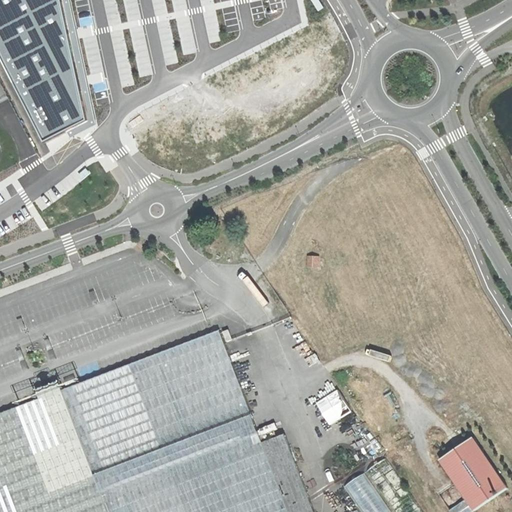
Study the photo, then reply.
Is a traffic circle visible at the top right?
Yes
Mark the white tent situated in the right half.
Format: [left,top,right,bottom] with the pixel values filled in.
[316,390,351,425]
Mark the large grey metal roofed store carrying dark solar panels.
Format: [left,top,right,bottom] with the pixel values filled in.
[0,0,84,138]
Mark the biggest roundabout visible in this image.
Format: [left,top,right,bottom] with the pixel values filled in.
[362,28,460,127]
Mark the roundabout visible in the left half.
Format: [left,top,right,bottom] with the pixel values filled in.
[136,190,178,231]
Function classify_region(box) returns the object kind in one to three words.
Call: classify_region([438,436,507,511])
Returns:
house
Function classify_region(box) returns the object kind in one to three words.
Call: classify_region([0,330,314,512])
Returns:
building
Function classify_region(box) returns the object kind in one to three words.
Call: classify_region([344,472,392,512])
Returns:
greenhouse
